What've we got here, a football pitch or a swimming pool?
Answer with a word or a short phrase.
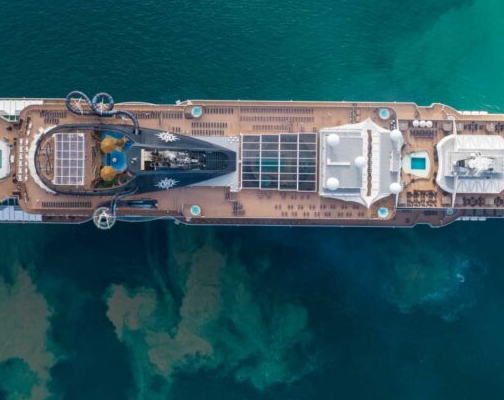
swimming pool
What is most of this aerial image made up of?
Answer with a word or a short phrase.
water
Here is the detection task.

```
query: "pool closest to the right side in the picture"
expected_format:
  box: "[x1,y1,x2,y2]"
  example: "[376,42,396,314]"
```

[404,149,431,179]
